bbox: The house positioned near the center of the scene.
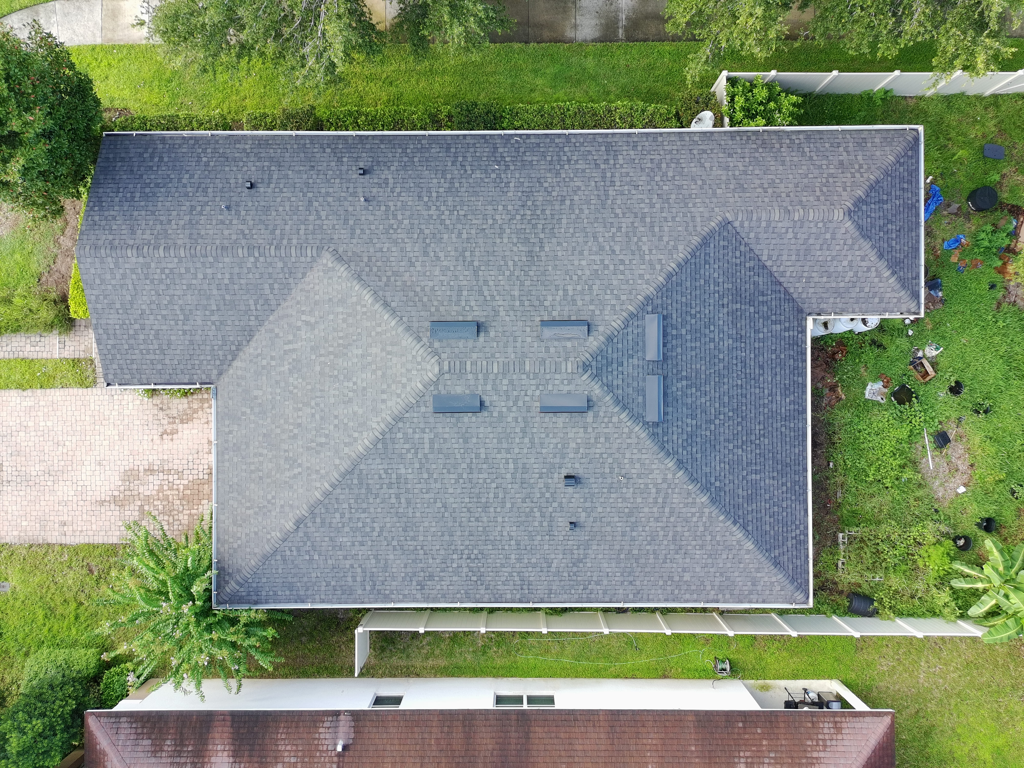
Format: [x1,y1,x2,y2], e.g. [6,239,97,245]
[71,128,924,607]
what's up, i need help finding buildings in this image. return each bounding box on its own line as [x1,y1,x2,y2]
[71,128,924,607]
[55,676,898,768]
